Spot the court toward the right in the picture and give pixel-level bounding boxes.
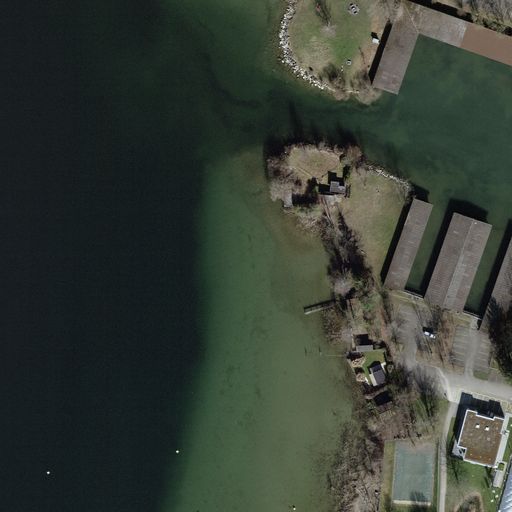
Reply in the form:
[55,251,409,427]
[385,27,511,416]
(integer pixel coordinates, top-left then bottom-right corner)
[393,440,436,504]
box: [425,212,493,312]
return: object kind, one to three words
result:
building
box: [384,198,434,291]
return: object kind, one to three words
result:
building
